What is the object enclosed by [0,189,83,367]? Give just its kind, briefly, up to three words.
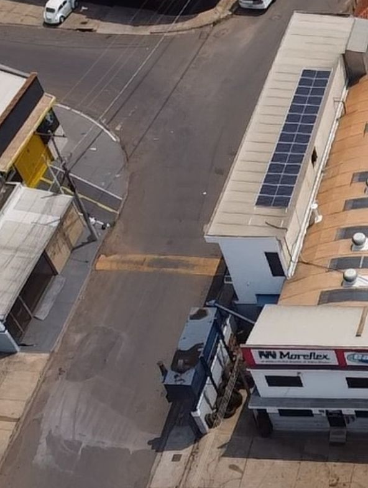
shed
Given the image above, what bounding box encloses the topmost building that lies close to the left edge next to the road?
[0,68,93,220]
